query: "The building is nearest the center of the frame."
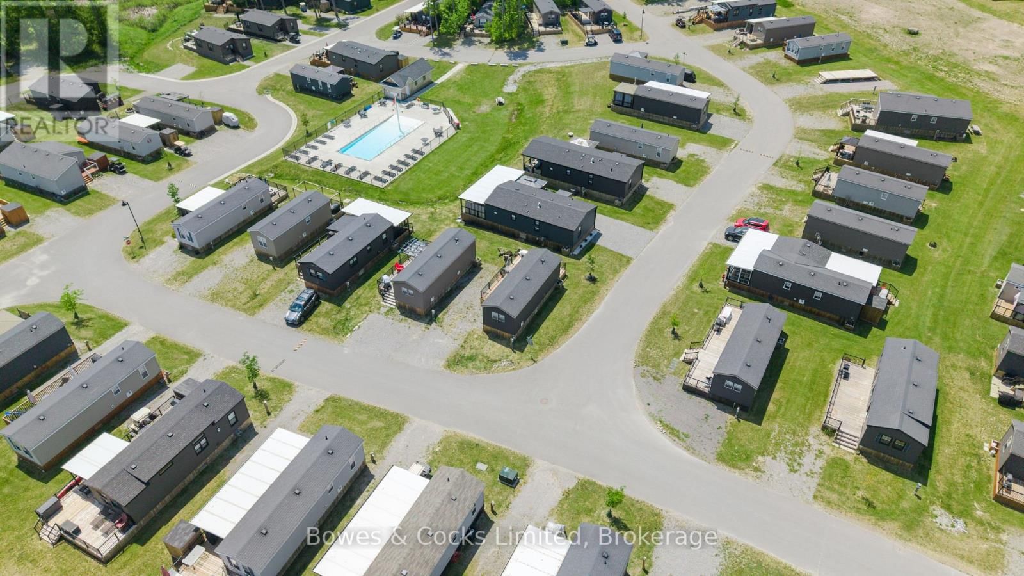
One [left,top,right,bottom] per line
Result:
[481,249,562,339]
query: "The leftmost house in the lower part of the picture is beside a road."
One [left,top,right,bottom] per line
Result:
[0,312,75,401]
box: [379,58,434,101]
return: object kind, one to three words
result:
building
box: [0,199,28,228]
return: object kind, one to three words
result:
shed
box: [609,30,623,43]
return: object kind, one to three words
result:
vehicle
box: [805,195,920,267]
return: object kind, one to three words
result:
house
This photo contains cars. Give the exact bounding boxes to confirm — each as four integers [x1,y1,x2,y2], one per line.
[609,30,623,43]
[734,216,771,233]
[282,290,319,325]
[722,225,761,240]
